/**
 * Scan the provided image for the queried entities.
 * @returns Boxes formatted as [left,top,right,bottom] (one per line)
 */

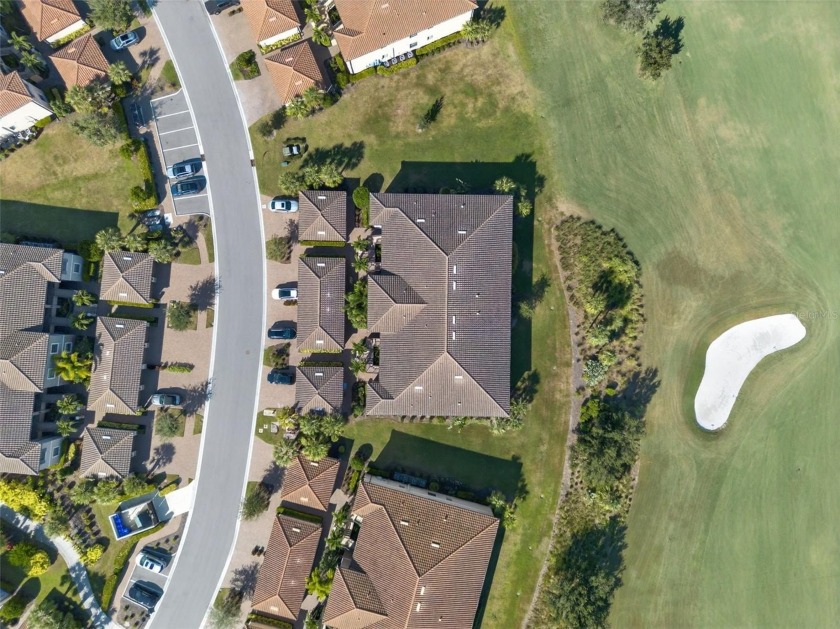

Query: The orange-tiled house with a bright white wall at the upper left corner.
[0,17,58,148]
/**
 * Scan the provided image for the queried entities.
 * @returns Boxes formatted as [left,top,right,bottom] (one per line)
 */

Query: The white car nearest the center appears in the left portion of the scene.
[272,287,298,301]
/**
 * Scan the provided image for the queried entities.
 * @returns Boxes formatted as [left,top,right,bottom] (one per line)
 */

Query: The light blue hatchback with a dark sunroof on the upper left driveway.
[112,32,141,52]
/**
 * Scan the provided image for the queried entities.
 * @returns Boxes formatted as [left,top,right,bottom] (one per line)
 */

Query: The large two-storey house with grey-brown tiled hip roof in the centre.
[365,192,514,417]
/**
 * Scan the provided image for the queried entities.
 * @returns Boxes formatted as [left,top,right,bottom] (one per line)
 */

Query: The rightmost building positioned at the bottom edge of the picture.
[320,472,500,629]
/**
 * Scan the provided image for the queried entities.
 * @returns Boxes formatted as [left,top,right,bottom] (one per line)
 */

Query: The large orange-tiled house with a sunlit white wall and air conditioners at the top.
[321,0,479,72]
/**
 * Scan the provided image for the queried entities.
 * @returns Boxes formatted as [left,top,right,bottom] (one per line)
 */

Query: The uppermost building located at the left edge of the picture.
[16,0,89,43]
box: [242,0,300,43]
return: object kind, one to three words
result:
building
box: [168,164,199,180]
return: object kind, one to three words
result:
car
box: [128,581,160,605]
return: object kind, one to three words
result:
car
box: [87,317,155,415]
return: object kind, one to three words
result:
building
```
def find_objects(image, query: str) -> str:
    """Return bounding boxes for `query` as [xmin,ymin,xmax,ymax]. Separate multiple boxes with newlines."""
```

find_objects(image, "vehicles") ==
[172,180,205,195]
[207,0,239,16]
[112,32,141,52]
[272,287,298,301]
[168,164,199,180]
[269,199,299,213]
[152,393,185,406]
[136,550,168,574]
[269,327,298,340]
[128,581,160,605]
[267,371,296,385]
